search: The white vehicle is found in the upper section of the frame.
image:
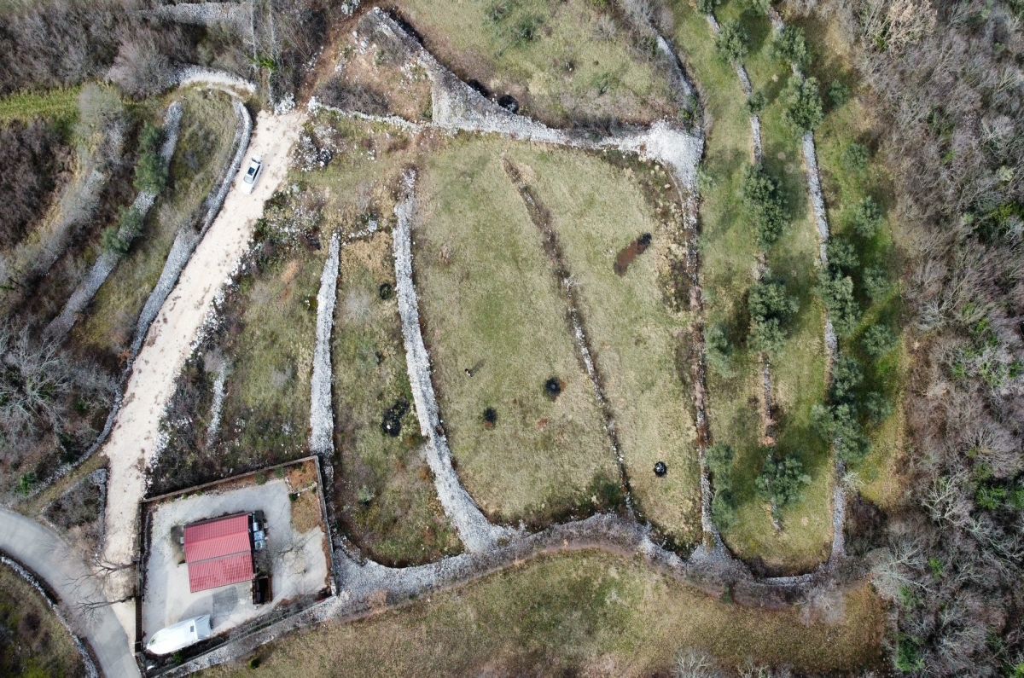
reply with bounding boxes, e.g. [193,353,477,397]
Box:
[239,155,264,195]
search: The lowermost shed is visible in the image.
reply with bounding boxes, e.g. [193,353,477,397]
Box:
[252,572,278,605]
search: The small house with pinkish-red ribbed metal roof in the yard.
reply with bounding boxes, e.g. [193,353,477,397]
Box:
[182,513,259,595]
